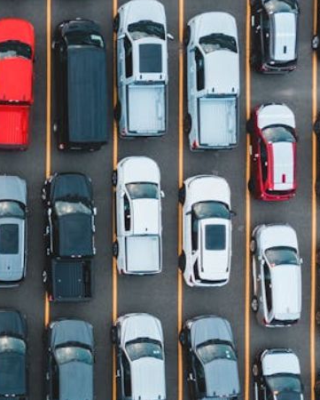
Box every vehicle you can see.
[181,175,236,286]
[114,0,172,138]
[0,17,40,149]
[252,349,307,400]
[114,157,167,275]
[44,318,101,400]
[248,224,305,327]
[249,0,305,74]
[247,103,302,200]
[184,12,245,150]
[0,309,33,400]
[112,313,169,400]
[0,176,31,287]
[43,173,100,301]
[181,315,243,400]
[54,17,111,151]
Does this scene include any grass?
No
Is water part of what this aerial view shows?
No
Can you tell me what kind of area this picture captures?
parking lot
